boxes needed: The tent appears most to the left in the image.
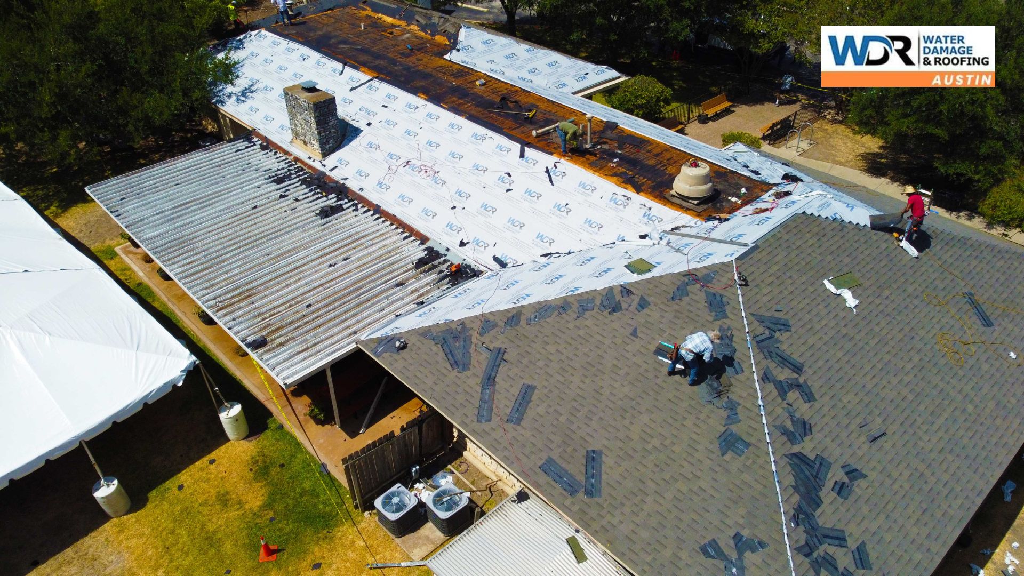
[0,188,222,487]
